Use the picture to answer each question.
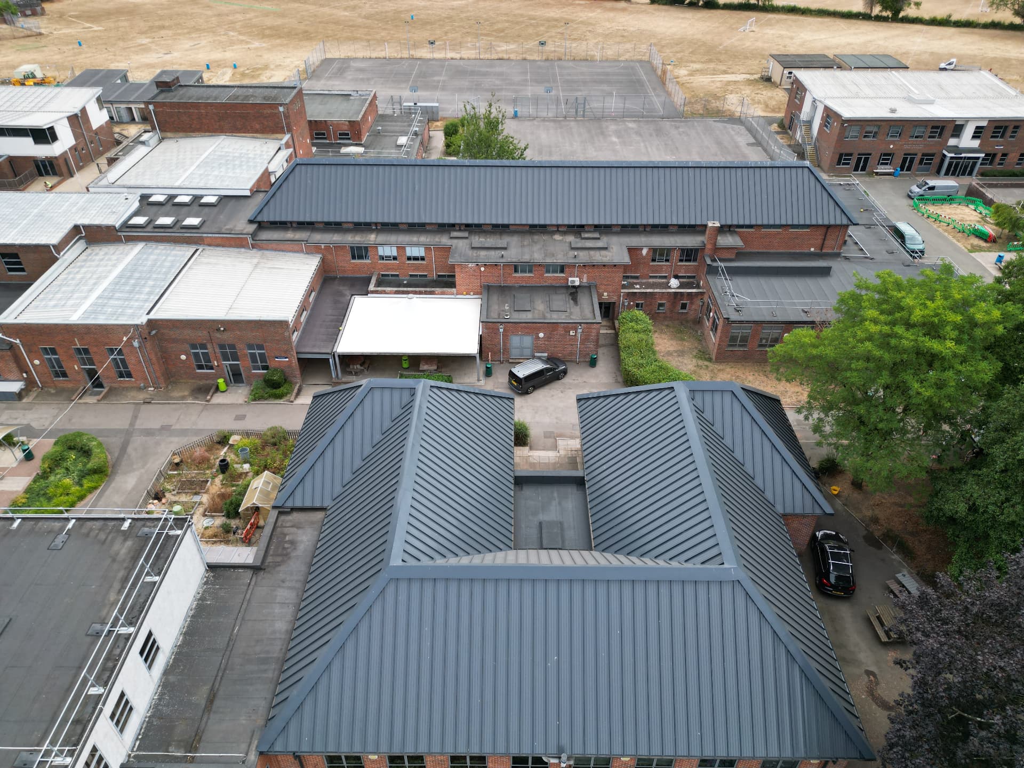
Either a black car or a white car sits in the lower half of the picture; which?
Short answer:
black car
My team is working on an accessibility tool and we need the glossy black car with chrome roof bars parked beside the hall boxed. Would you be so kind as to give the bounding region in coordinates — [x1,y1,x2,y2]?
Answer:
[811,533,855,605]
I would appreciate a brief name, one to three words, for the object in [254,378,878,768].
building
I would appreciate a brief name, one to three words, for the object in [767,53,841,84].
building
